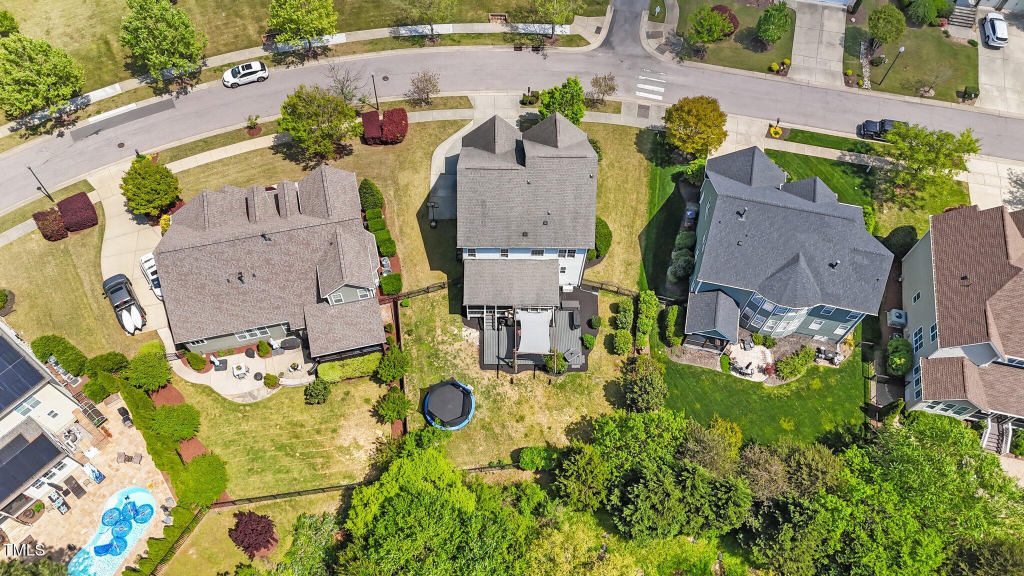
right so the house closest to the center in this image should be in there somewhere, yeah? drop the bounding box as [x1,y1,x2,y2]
[457,111,596,331]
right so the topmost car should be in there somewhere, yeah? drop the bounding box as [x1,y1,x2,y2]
[982,16,1009,46]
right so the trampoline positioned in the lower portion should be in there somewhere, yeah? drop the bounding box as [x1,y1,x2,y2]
[426,382,476,432]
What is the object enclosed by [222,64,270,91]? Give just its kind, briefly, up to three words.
car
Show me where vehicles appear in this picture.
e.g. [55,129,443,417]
[101,274,147,335]
[140,252,166,302]
[982,16,1009,46]
[859,119,911,146]
[222,64,270,91]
